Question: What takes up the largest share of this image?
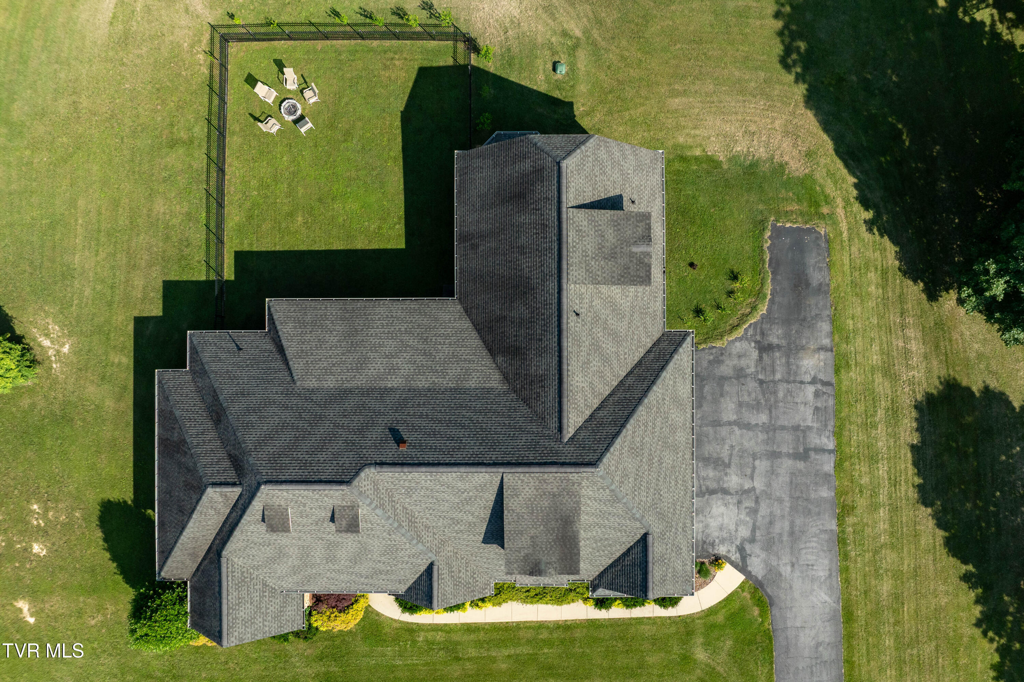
grass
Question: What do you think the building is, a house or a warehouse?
house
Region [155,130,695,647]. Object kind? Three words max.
house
